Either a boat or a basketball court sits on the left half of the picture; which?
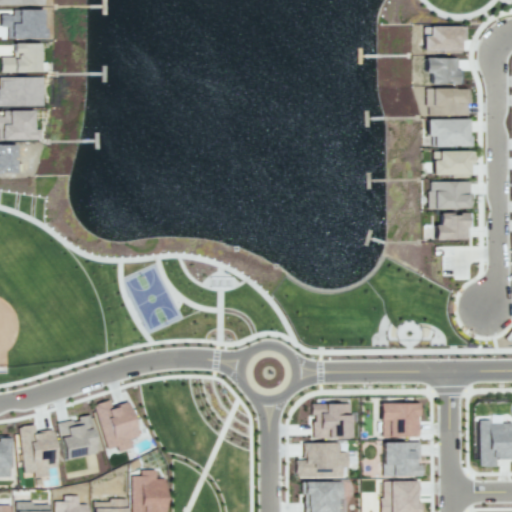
basketball court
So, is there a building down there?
Yes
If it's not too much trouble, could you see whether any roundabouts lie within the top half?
No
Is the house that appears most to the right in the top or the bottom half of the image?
bottom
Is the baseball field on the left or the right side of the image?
left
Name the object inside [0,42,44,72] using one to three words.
house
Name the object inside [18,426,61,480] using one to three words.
house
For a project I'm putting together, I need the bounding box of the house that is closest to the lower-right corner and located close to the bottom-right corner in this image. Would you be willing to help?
[481,421,512,468]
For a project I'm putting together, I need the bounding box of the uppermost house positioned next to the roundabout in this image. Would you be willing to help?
[313,404,356,440]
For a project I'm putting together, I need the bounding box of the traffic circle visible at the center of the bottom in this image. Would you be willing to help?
[236,340,302,405]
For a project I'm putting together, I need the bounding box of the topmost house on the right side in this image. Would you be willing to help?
[426,26,470,54]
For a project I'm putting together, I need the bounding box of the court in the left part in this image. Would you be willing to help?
[124,264,181,334]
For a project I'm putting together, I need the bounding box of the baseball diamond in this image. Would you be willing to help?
[0,214,106,381]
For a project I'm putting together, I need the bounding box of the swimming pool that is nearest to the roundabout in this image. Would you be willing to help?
[136,439,152,454]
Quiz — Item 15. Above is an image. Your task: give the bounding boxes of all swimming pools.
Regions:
[136,439,152,454]
[48,470,60,487]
